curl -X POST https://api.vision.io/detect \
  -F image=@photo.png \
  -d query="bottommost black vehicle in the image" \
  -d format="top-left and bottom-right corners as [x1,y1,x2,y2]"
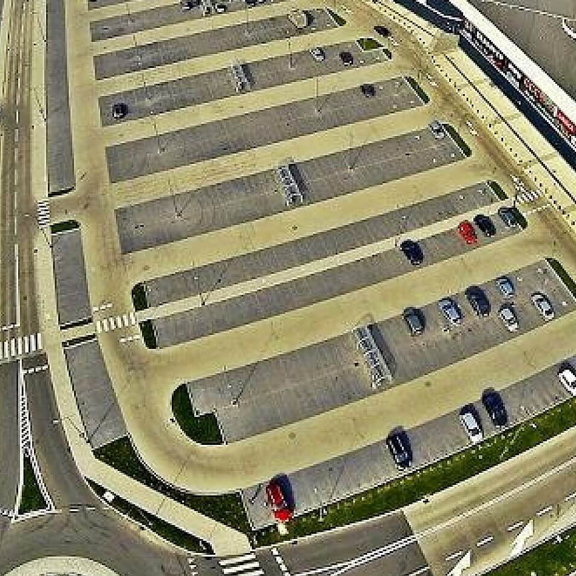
[385,429,418,472]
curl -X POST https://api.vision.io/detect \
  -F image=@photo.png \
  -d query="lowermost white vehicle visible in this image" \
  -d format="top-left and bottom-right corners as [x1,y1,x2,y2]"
[456,409,488,445]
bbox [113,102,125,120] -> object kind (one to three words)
vehicle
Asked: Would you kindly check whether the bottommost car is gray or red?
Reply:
red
